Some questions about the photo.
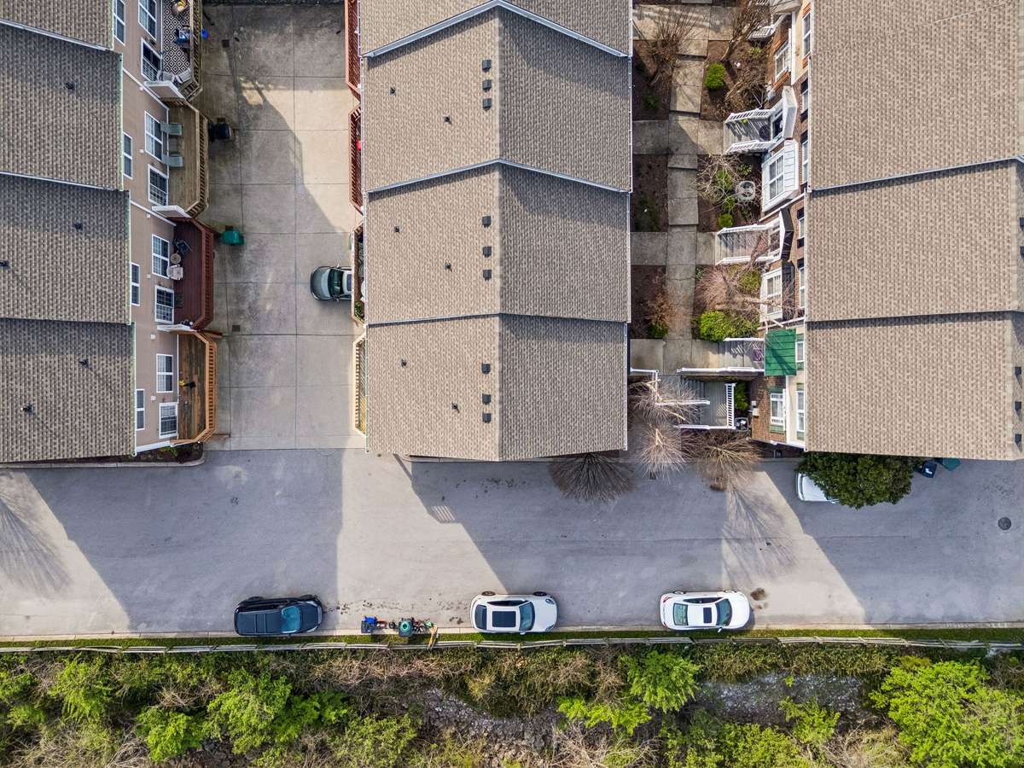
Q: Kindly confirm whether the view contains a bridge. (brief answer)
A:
No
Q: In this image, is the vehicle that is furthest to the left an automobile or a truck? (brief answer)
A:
automobile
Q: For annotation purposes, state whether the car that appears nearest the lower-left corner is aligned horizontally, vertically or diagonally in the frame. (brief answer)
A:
horizontally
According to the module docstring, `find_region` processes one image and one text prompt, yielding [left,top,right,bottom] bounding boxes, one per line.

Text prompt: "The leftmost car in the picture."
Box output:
[232,595,325,643]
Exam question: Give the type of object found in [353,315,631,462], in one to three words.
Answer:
house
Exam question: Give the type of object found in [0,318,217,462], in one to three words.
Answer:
house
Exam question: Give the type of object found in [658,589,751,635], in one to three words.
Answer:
car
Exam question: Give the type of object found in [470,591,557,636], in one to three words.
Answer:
car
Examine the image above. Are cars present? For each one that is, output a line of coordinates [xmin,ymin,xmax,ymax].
[470,591,557,636]
[310,260,356,304]
[796,469,844,510]
[658,589,751,635]
[232,595,325,643]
